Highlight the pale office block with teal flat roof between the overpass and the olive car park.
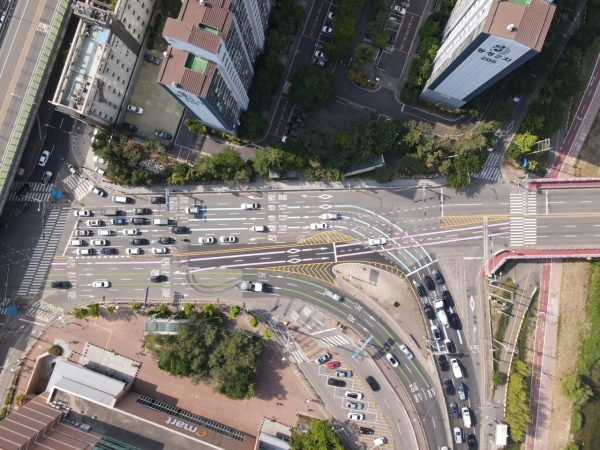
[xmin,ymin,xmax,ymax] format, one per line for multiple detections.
[55,0,154,130]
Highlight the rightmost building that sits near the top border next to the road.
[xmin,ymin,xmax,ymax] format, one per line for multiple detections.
[420,0,560,110]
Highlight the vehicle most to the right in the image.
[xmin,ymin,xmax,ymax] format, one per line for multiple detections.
[509,90,524,107]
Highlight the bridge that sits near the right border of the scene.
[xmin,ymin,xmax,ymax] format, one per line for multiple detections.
[482,177,600,279]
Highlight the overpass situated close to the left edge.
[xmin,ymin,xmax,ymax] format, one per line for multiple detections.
[0,0,75,212]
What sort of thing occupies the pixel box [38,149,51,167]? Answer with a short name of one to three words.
vehicle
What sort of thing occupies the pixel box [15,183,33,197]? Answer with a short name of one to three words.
car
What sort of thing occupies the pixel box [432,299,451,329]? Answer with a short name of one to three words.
vehicle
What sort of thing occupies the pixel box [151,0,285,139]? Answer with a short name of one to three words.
building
